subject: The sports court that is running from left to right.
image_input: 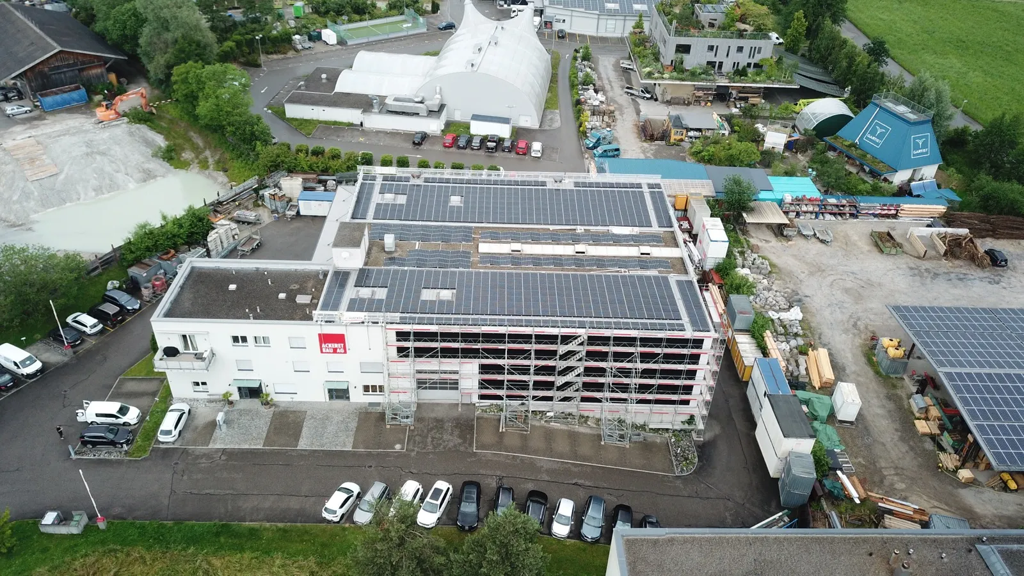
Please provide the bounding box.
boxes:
[326,0,427,44]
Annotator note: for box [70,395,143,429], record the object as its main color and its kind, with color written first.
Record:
white van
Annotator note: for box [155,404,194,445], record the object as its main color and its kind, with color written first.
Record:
white car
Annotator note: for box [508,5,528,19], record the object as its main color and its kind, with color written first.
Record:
white vehicle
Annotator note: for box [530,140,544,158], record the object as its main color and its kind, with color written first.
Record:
white car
